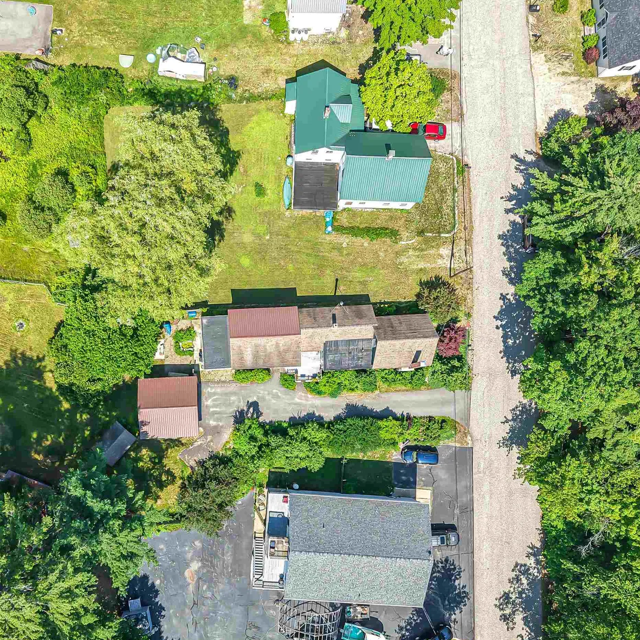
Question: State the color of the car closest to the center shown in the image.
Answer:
blue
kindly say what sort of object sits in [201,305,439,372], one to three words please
house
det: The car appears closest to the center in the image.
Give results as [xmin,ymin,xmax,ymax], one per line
[403,449,441,469]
